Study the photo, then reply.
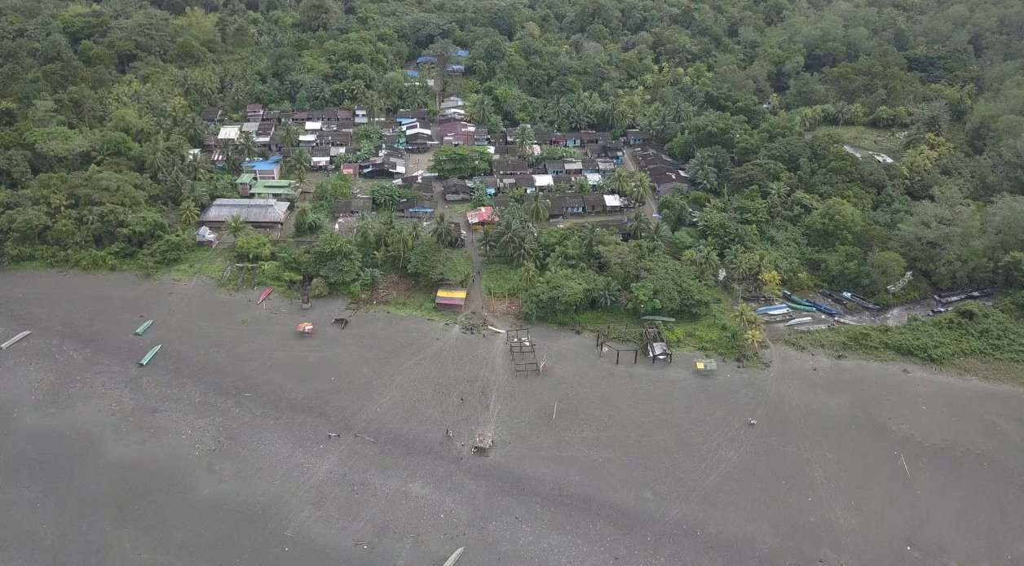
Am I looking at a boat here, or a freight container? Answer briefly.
boat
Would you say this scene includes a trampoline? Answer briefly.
No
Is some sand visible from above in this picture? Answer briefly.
Yes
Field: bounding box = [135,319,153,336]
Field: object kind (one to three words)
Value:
boat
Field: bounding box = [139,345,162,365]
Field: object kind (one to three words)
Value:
boat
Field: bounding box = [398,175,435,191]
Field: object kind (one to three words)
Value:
house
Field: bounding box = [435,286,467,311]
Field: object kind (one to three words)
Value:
shed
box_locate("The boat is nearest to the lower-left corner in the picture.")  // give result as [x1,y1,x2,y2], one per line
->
[0,330,32,350]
